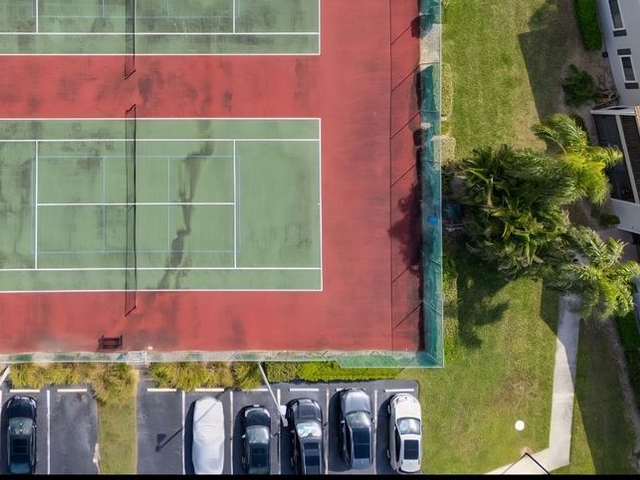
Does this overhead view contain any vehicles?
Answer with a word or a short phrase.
Yes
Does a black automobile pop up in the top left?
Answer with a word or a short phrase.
No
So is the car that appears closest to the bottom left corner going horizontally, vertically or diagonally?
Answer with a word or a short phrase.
vertically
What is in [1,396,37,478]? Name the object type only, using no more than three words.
car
